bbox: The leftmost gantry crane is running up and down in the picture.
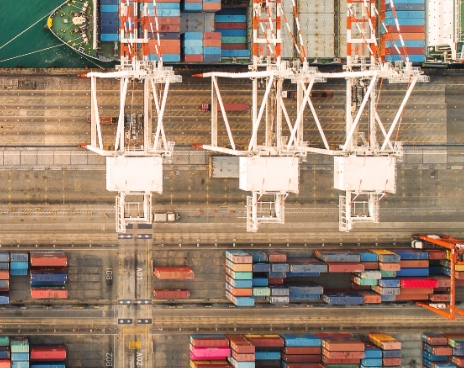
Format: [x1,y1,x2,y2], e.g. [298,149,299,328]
[73,0,187,235]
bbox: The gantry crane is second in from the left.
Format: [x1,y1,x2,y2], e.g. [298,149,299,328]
[189,0,329,235]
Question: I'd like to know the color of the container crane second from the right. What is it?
white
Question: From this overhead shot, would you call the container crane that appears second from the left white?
Yes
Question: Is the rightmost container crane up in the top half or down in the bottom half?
bottom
